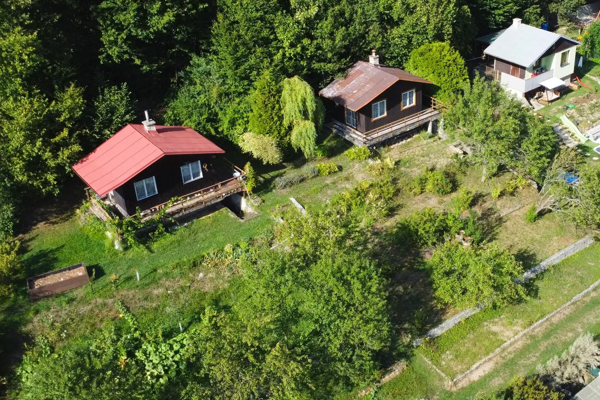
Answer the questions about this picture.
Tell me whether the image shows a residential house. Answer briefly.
Yes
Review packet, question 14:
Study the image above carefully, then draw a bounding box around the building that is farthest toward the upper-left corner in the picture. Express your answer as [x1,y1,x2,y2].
[72,102,267,242]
